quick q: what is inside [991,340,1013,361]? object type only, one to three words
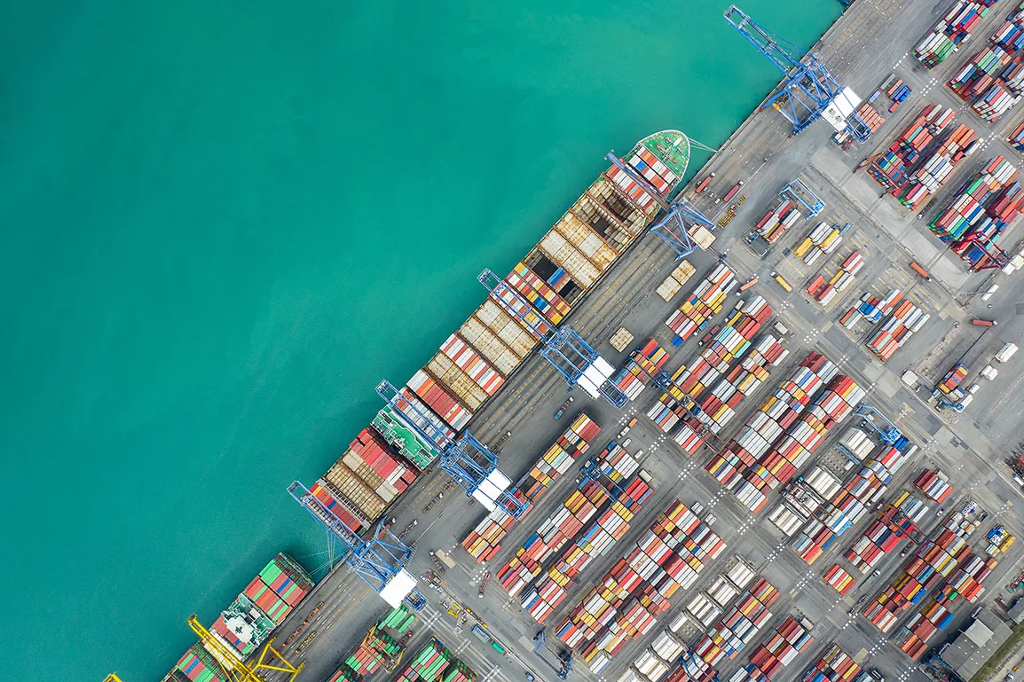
truck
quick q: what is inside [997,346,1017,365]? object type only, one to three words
vehicle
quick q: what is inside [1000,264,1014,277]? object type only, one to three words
vehicle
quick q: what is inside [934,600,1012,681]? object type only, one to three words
building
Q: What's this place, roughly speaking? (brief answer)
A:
port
